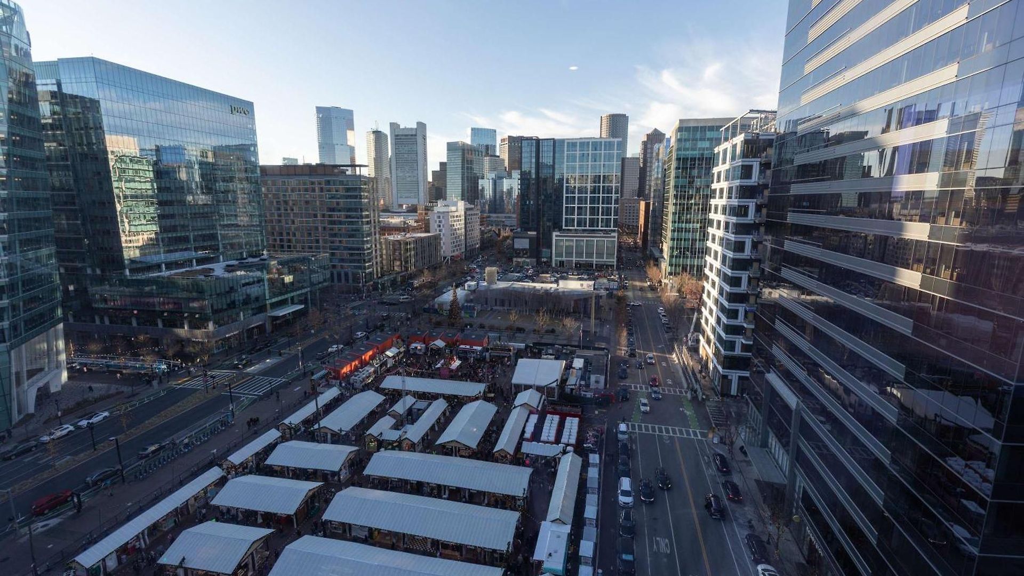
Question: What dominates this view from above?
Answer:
buildings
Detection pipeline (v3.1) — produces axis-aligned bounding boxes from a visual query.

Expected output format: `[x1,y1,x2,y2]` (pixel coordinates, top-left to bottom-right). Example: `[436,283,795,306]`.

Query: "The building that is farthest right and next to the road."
[743,0,1024,576]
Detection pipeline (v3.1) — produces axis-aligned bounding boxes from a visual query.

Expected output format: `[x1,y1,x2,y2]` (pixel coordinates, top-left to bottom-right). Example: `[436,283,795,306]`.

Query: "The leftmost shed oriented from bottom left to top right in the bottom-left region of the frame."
[69,464,228,576]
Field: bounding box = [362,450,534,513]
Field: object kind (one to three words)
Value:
shed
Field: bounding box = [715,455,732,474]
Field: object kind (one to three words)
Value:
car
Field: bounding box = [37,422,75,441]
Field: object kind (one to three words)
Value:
car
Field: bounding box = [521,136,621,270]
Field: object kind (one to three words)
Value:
building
